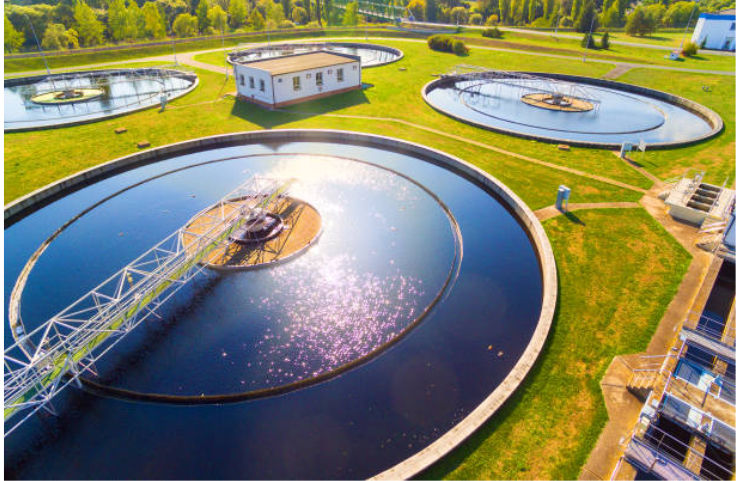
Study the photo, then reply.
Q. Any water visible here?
Yes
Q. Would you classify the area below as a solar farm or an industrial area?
industrial area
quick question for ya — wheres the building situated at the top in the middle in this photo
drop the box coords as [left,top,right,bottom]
[234,51,361,107]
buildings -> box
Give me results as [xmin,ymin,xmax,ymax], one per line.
[234,51,361,107]
[690,7,740,48]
